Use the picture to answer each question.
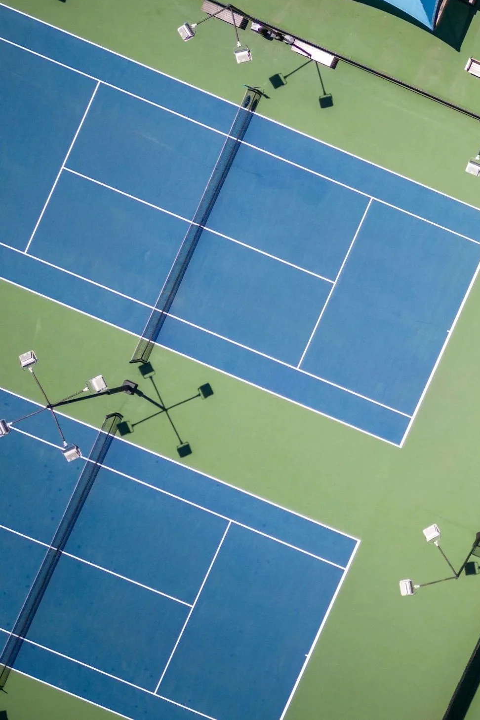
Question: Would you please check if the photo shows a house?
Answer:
No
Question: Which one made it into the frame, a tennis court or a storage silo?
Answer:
tennis court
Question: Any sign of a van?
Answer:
No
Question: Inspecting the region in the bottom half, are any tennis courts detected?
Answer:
Yes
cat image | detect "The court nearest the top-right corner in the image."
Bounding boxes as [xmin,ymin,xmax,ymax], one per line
[0,5,480,449]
